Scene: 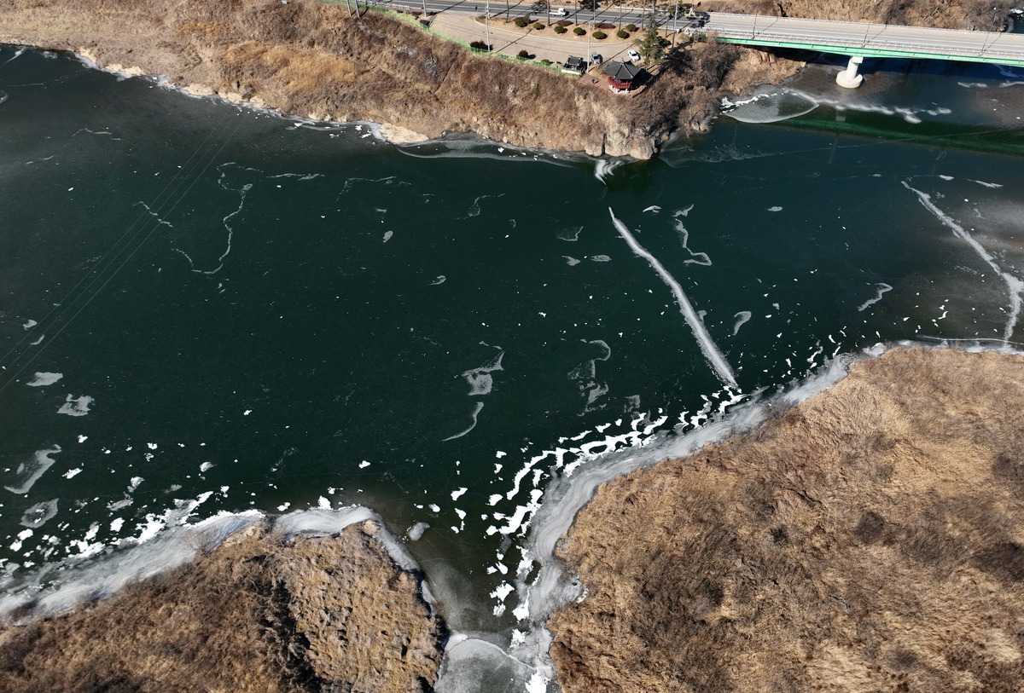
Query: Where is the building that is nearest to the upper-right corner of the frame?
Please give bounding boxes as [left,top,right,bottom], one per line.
[604,56,641,92]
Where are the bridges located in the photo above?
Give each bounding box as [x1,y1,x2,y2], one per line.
[682,10,1024,89]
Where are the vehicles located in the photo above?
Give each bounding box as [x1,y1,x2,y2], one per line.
[549,7,566,17]
[591,49,601,63]
[628,48,640,60]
